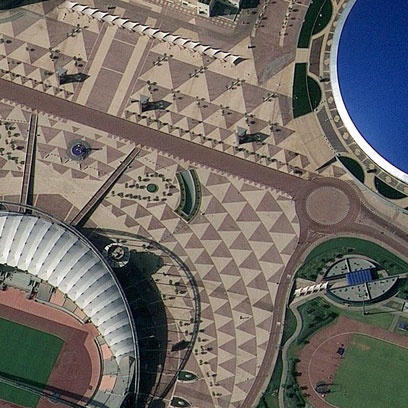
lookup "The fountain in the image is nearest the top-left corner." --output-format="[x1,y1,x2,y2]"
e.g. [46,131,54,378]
[66,139,91,162]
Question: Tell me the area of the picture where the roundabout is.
right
